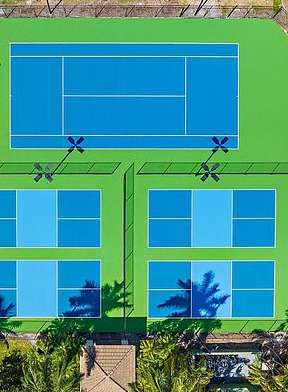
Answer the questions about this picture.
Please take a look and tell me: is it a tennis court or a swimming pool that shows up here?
tennis court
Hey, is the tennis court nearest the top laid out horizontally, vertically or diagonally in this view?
horizontally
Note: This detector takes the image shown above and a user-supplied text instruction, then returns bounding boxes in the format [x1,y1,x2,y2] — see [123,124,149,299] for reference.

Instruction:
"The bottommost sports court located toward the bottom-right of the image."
[148,260,276,318]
